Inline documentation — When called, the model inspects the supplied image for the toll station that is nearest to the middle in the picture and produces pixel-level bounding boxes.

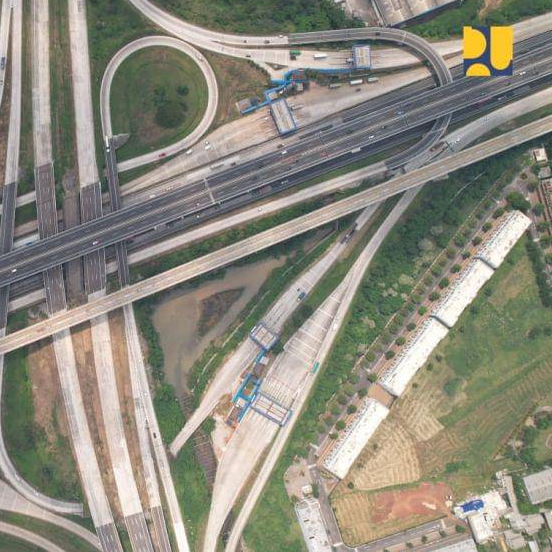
[233,258,330,367]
